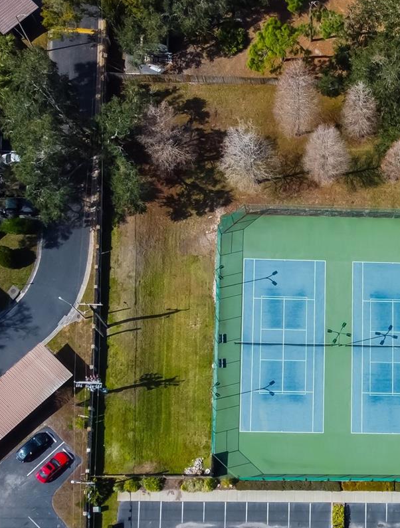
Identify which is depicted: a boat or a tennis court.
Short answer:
tennis court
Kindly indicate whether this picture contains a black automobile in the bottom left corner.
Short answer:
Yes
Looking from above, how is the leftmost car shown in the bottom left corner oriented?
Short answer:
on a diagonal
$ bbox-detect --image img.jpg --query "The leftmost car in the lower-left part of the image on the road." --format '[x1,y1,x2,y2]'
[16,429,53,461]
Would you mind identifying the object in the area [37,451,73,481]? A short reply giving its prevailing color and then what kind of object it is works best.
red car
